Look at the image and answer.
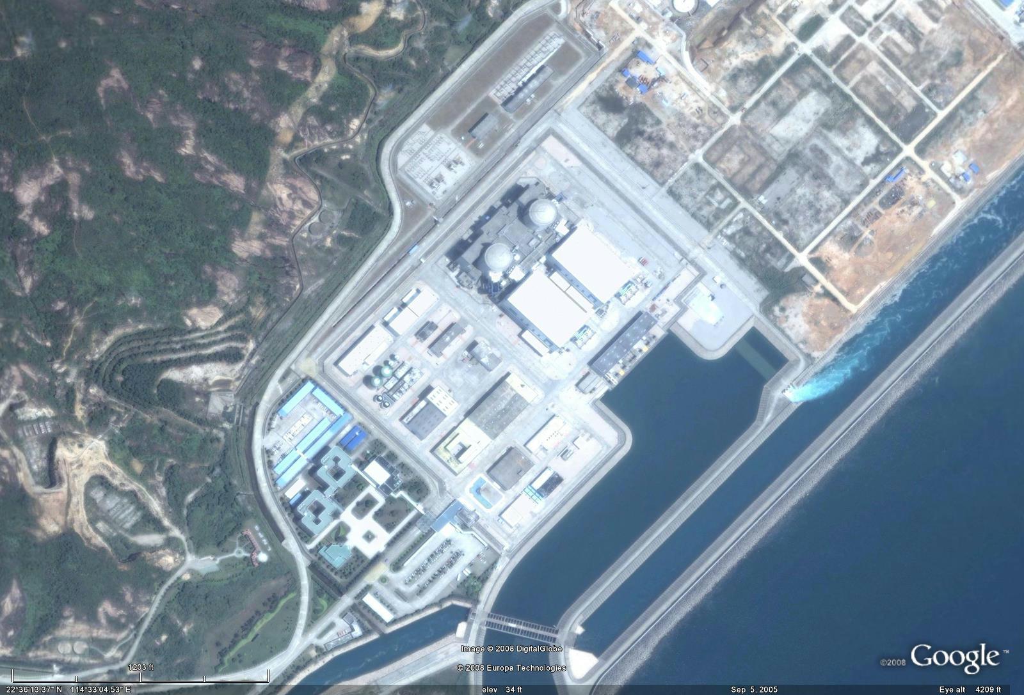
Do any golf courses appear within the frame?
No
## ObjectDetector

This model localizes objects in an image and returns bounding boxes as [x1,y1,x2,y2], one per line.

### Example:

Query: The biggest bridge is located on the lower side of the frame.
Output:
[485,613,559,645]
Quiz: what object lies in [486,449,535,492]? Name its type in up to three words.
building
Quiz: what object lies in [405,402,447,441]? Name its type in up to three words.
building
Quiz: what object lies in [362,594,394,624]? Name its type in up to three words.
shed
